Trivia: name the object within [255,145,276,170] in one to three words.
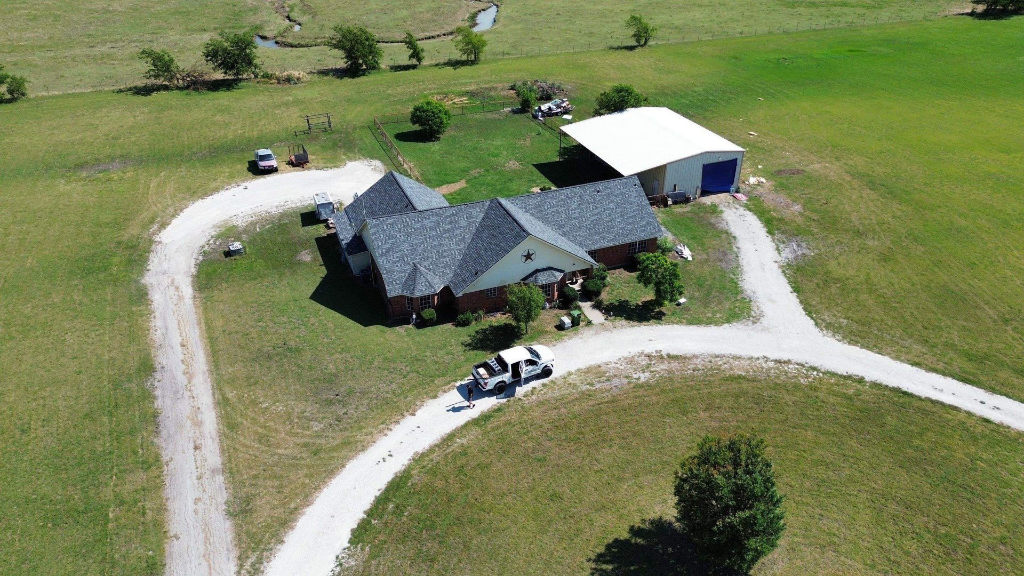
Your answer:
car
